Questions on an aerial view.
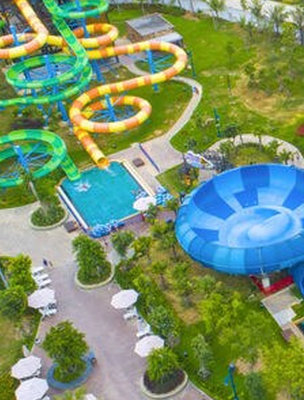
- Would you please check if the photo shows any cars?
No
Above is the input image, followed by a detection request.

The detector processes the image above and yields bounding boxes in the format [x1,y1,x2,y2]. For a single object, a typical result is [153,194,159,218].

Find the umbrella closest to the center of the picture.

[134,197,157,220]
